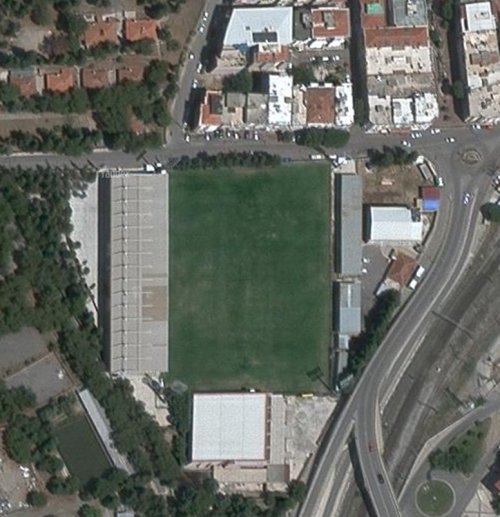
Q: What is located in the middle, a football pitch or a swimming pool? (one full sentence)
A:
The feature located in the middle is a football pitch.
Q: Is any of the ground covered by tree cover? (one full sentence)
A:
Yes, tree cover shows up in the scene.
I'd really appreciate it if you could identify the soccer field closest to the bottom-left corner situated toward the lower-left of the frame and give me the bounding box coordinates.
[54,412,114,484]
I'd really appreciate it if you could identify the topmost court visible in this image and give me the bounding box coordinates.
[0,329,49,372]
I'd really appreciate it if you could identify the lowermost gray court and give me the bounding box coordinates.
[5,353,75,403]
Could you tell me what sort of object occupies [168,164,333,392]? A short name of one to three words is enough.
soccer field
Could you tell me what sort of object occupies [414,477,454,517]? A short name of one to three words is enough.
roundabout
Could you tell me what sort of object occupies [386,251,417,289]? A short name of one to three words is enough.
house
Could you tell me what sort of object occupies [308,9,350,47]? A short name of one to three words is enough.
building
